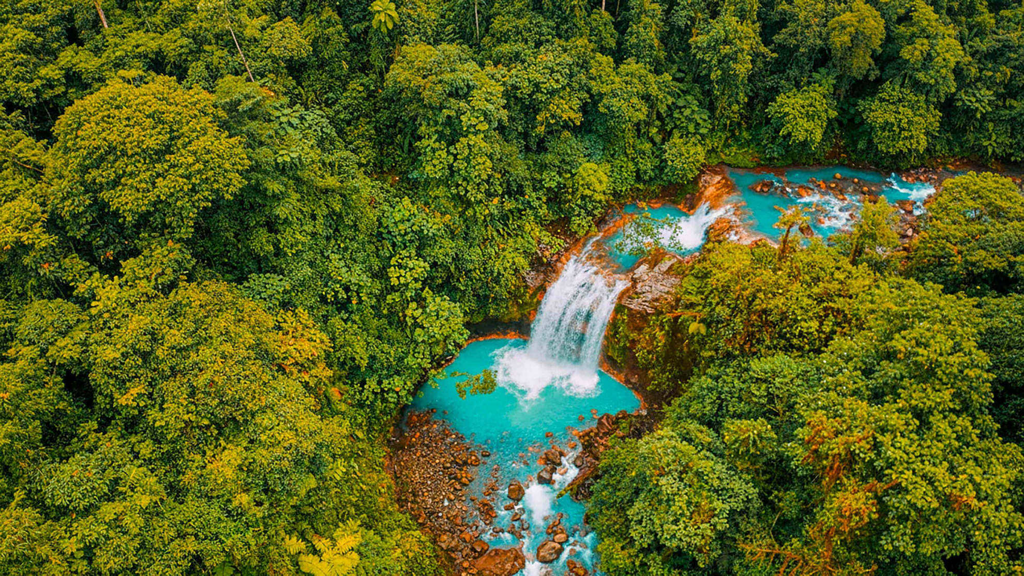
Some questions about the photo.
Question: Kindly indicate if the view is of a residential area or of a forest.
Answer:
forest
